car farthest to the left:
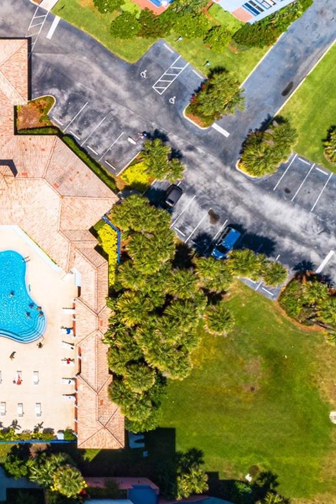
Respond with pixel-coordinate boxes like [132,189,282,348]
[161,179,191,211]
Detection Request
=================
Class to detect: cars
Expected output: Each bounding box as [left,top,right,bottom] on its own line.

[161,179,191,211]
[212,227,245,261]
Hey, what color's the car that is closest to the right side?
blue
